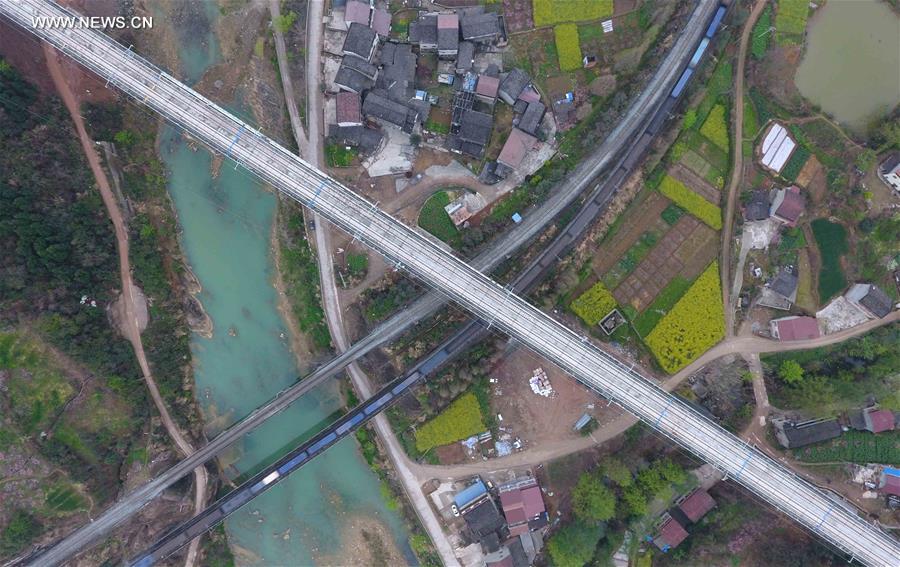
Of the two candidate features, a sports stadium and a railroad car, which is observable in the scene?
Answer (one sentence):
Visible in the photo is a railroad car.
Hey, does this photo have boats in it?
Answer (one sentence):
No, there isn't any boat down there.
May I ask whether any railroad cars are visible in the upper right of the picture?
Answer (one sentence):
Yes, the scene does show a railroad car in the upper right of the picture.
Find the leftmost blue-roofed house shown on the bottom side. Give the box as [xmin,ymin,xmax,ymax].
[454,476,488,508]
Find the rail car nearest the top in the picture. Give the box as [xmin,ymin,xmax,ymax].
[701,6,724,41]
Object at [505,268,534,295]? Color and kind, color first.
gray rail car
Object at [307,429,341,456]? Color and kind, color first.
blue rail car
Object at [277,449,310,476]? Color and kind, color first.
blue rail car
